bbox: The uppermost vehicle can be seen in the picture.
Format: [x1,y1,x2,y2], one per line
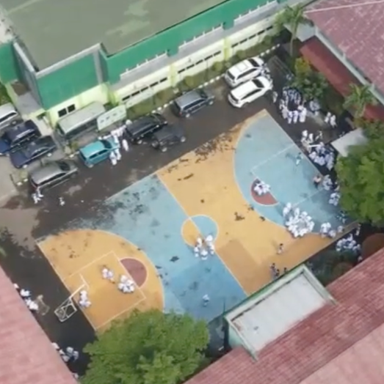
[221,60,266,87]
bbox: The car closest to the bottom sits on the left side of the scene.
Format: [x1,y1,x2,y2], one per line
[30,159,77,190]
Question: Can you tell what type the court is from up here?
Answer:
basketball court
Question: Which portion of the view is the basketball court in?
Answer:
center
